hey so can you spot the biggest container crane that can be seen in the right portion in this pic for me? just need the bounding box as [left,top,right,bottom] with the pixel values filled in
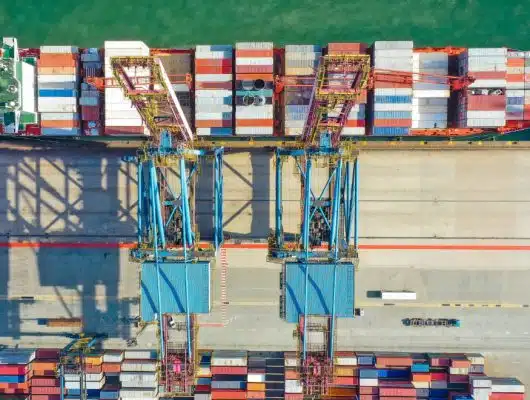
[267,57,374,397]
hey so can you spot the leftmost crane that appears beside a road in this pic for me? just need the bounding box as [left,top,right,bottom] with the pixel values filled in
[57,340,104,400]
